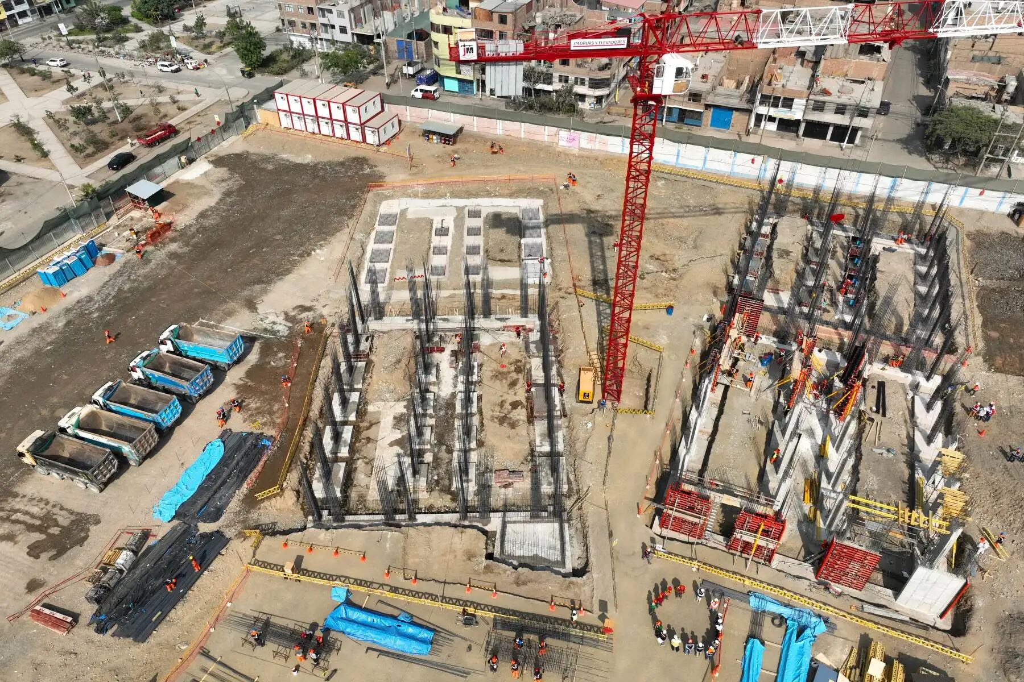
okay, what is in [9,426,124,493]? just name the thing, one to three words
truck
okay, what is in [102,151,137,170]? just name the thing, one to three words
car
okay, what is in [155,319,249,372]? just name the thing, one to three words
truck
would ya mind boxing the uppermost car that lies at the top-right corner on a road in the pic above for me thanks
[876,101,894,115]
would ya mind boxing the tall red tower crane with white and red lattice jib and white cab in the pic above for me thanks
[452,0,1024,406]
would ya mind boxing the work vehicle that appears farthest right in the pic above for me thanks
[995,203,1024,231]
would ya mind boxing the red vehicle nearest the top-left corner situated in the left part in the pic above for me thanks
[133,122,175,148]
